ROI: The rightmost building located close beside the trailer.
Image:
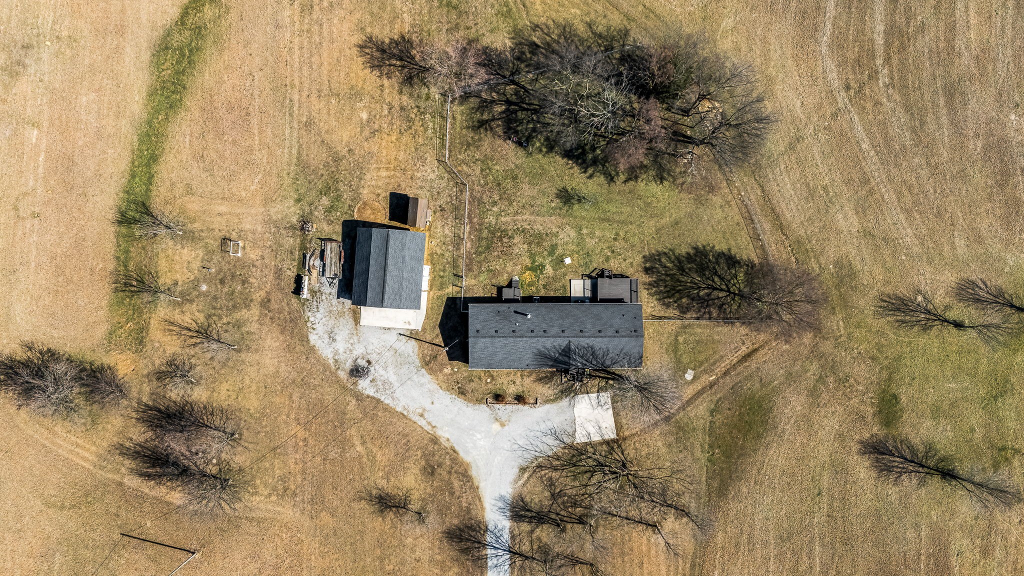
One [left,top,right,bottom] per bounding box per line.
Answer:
[352,228,426,309]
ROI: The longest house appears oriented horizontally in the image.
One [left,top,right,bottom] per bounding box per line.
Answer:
[469,302,644,372]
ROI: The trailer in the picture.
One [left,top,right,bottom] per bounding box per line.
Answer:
[322,243,342,289]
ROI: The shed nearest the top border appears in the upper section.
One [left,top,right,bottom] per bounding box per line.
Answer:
[409,195,432,229]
